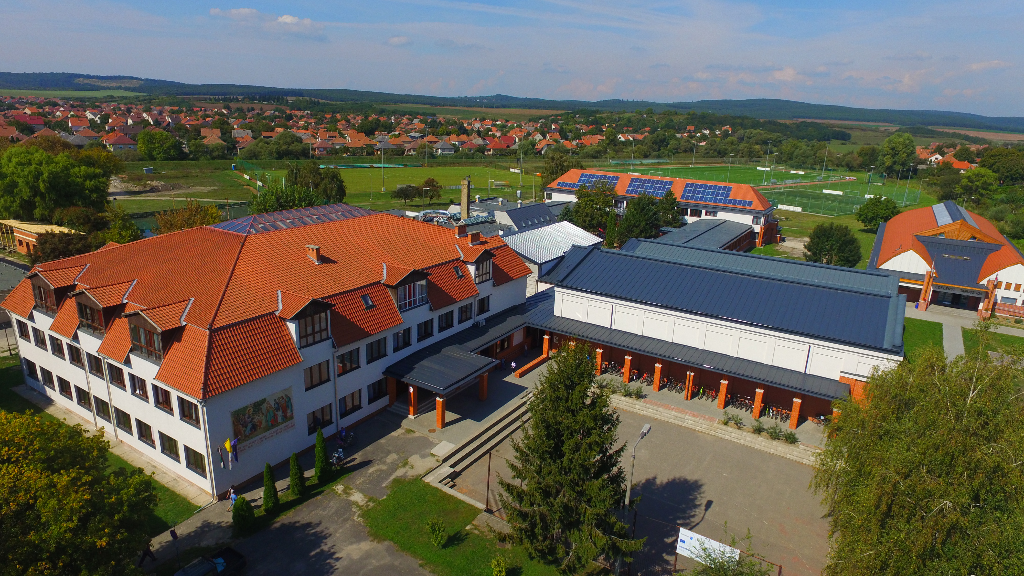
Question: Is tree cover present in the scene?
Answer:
Yes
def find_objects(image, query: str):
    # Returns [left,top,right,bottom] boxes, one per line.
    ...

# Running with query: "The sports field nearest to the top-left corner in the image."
[246,167,554,194]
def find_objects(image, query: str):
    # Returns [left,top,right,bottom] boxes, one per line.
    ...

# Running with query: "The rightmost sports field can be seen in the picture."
[760,189,852,215]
